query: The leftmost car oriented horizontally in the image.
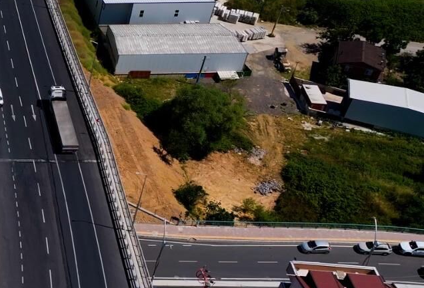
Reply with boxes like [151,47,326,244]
[301,239,335,254]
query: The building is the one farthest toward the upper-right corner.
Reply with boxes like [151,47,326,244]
[330,37,386,83]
